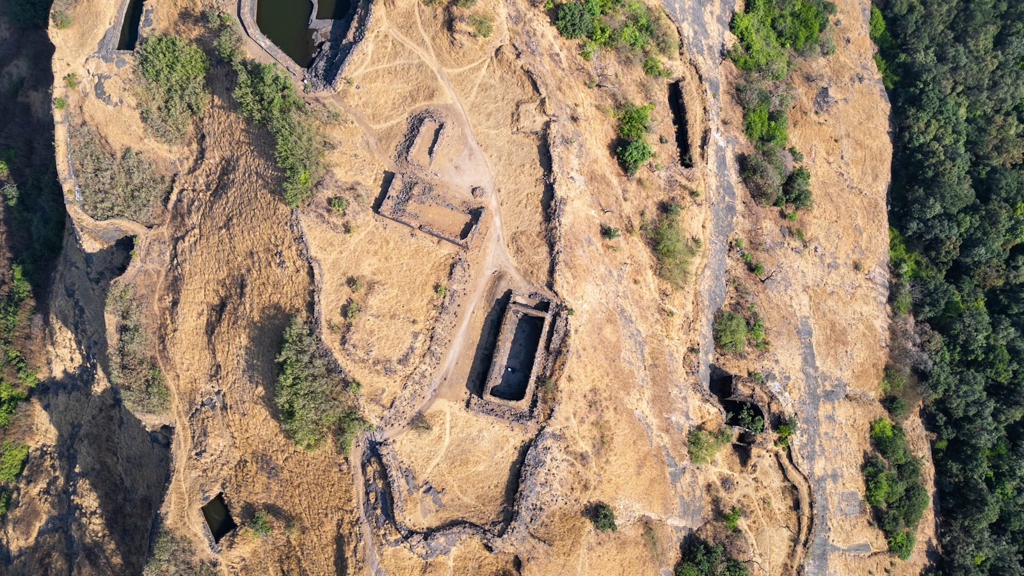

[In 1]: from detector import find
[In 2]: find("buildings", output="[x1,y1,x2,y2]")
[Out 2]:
[470,292,566,423]
[378,171,486,251]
